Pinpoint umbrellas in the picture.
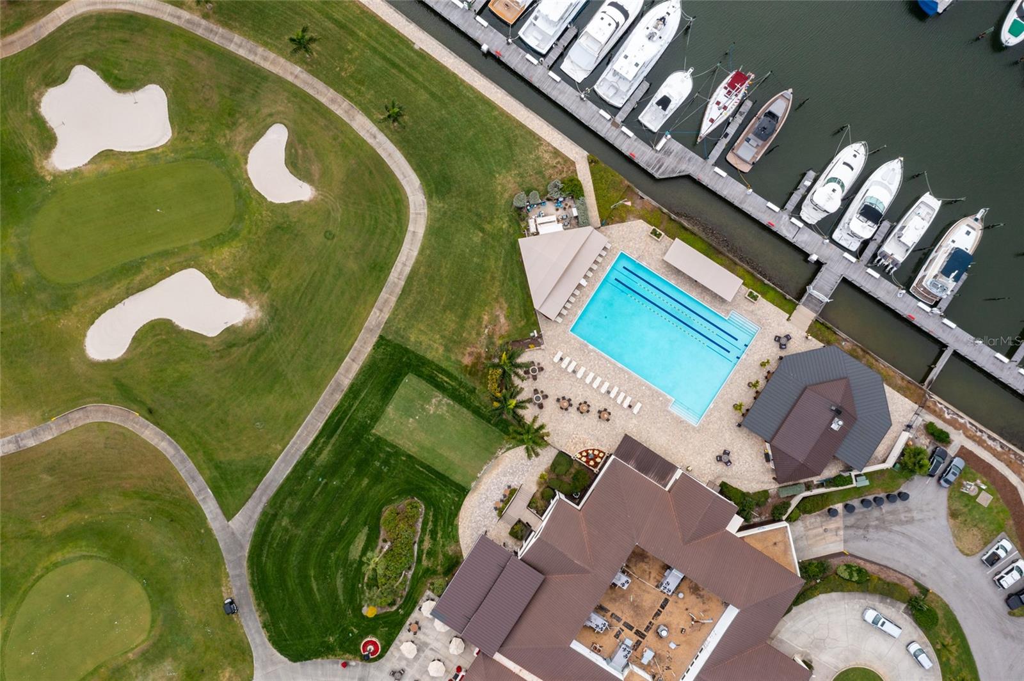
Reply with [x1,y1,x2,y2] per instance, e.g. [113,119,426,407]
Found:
[401,640,419,658]
[448,636,466,653]
[434,618,449,631]
[428,658,445,676]
[421,598,437,616]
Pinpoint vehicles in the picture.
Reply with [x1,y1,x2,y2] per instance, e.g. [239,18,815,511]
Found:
[976,535,1013,570]
[1002,587,1024,609]
[927,444,950,479]
[904,638,935,673]
[222,597,239,617]
[858,606,903,638]
[991,557,1024,588]
[936,454,966,489]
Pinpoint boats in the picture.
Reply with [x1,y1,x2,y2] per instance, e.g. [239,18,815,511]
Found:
[520,0,585,55]
[999,0,1024,47]
[490,0,531,26]
[834,153,908,252]
[639,64,695,133]
[797,139,871,226]
[729,88,794,172]
[559,0,644,85]
[697,69,752,143]
[875,190,945,268]
[594,0,684,108]
[907,202,996,305]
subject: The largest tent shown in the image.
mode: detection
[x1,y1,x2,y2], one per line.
[518,226,609,321]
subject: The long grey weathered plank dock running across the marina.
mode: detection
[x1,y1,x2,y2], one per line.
[422,0,1024,396]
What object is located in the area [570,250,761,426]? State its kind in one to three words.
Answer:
swimming pool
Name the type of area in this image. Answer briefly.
golf course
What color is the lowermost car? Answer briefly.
white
